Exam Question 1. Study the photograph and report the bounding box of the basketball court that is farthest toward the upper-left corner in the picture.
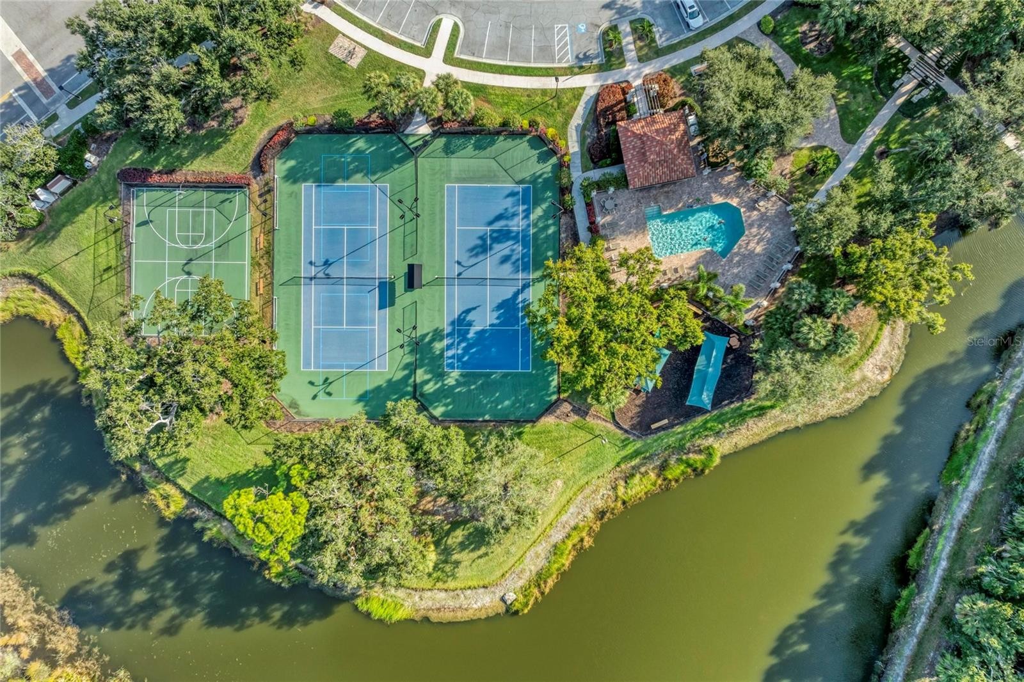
[129,187,250,335]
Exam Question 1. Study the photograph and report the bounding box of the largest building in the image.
[616,109,698,190]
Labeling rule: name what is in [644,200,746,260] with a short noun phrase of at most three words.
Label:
swimming pool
